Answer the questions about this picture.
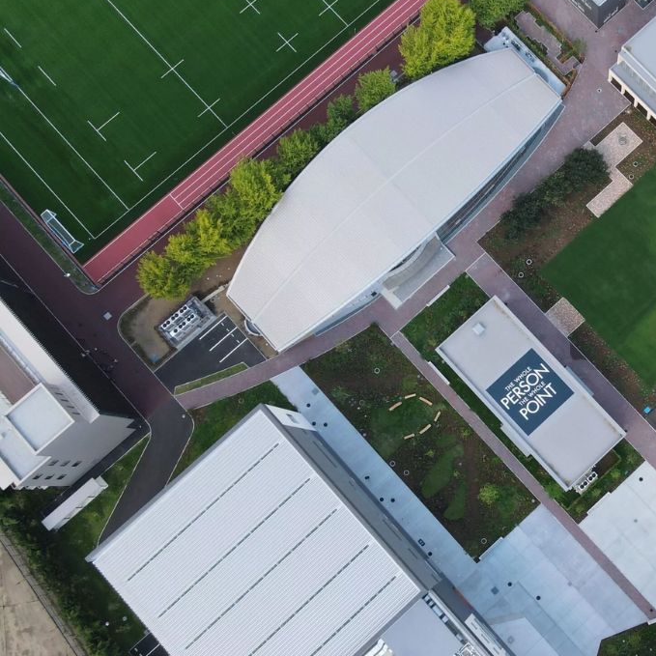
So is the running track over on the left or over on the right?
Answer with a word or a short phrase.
left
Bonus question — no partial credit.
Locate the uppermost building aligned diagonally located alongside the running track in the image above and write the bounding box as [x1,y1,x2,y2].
[225,26,571,352]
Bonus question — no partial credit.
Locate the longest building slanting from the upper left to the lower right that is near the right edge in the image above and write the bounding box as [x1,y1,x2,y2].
[436,297,627,491]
